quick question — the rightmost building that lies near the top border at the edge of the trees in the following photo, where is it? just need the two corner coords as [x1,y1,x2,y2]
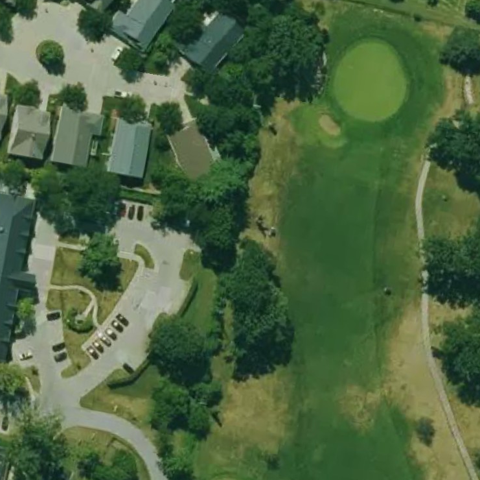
[182,11,243,73]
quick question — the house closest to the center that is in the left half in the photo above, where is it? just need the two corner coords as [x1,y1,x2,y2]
[168,123,213,178]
